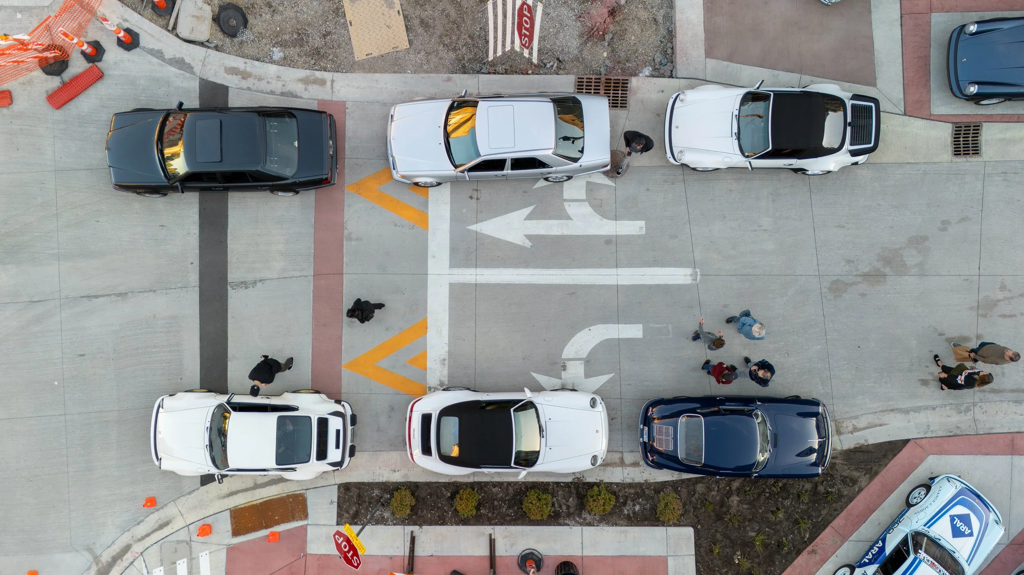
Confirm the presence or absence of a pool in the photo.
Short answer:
No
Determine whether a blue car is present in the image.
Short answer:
Yes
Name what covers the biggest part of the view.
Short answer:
paved ground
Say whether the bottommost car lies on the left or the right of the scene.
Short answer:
right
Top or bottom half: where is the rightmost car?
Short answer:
top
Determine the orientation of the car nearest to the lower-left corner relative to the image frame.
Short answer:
horizontally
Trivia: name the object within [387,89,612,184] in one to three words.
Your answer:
car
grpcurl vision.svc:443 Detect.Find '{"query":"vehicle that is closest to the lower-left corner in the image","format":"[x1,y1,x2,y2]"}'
[153,390,359,483]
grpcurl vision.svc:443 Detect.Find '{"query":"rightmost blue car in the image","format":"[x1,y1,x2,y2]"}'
[943,17,1024,104]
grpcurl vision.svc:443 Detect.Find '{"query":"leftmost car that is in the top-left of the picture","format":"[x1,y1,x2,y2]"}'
[104,102,340,197]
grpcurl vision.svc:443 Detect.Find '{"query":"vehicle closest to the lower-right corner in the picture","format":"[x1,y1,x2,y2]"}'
[835,473,1005,575]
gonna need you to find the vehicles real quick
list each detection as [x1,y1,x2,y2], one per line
[943,17,1024,104]
[638,394,832,479]
[405,387,605,478]
[153,390,359,483]
[104,102,340,197]
[835,473,1005,575]
[808,0,844,7]
[387,89,612,184]
[666,80,880,172]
